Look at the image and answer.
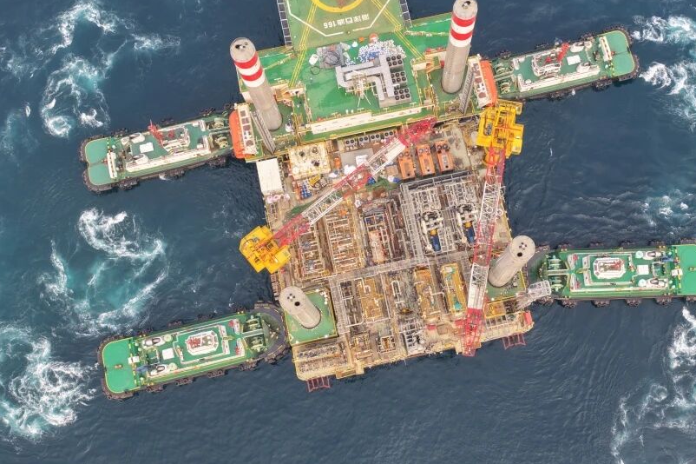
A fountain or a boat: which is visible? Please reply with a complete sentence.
I can see a boat in this picture.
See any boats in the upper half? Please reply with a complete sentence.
Yes, a boat can be seen in the upper half.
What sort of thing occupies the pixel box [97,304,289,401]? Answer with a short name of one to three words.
boat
